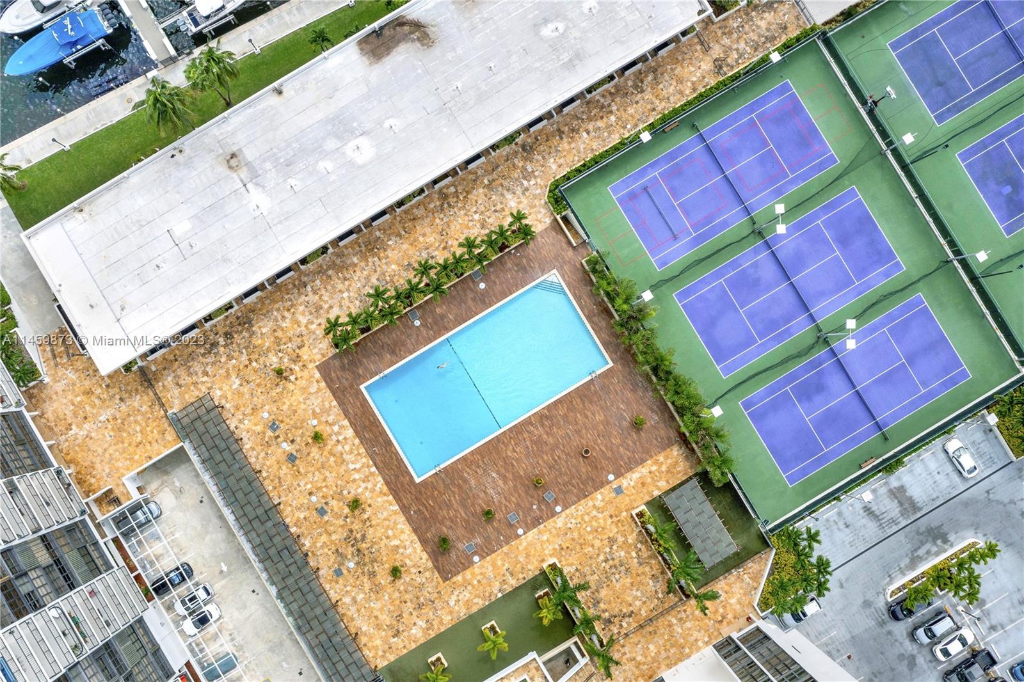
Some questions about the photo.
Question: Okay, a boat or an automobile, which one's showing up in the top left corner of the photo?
boat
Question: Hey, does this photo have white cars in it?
Yes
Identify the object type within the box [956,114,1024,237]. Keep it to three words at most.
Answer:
tennis court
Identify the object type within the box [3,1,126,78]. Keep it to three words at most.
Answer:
boat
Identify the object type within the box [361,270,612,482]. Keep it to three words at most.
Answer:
swimming pool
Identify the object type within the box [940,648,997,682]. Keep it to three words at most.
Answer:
vehicle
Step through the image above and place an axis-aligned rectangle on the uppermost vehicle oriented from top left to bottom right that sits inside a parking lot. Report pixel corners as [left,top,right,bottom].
[942,437,977,480]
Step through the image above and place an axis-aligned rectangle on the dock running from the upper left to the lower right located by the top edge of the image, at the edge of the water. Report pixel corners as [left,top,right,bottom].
[126,0,178,65]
